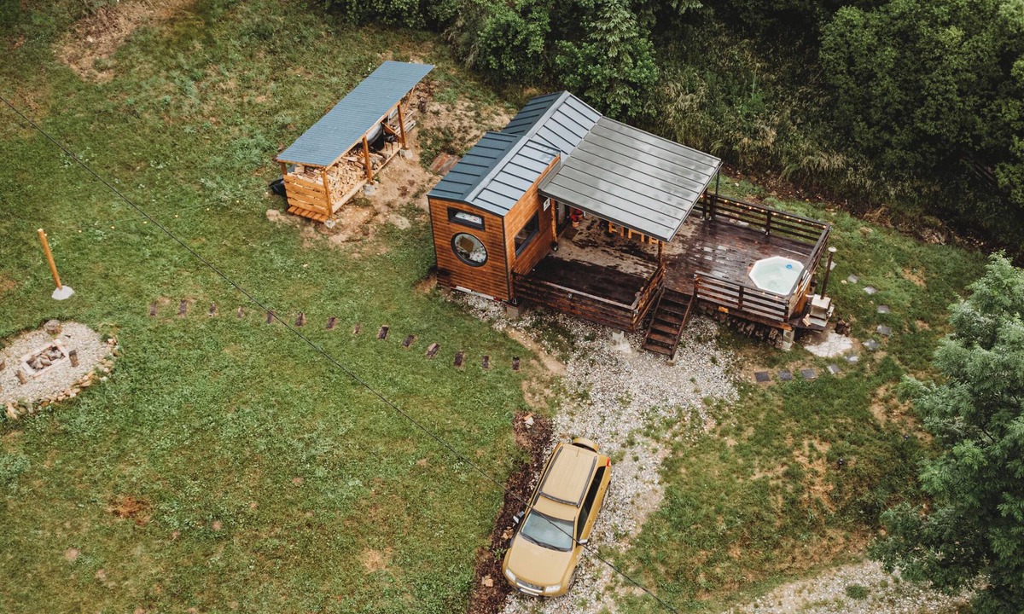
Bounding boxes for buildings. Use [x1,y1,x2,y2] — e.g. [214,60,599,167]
[425,88,604,305]
[272,60,441,227]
